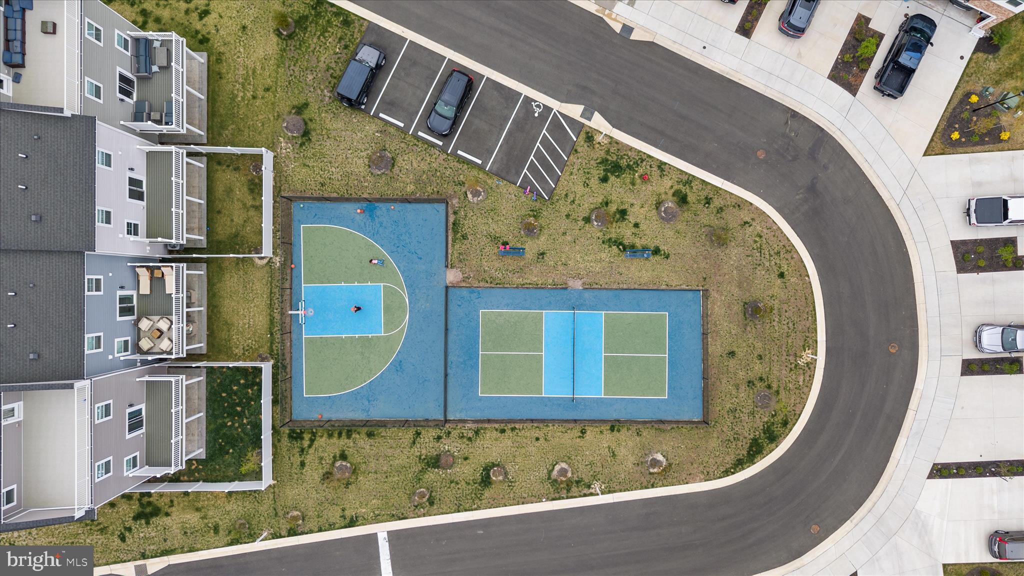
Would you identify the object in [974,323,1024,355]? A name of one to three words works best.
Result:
car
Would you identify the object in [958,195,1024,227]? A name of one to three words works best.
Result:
truck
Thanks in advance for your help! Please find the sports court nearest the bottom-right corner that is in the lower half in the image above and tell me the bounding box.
[445,287,702,420]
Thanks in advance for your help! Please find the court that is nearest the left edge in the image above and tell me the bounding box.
[293,202,445,419]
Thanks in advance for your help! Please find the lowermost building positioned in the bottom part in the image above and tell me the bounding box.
[0,362,205,528]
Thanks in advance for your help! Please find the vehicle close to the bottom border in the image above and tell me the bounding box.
[985,527,1024,559]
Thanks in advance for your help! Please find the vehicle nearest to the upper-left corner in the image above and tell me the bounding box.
[334,41,385,108]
